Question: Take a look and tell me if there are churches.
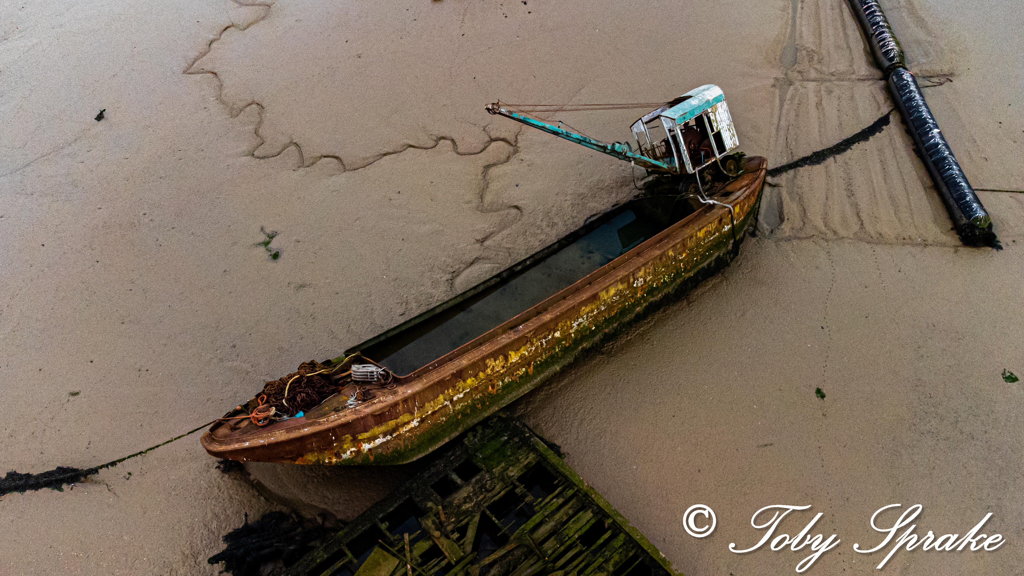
No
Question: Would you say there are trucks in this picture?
No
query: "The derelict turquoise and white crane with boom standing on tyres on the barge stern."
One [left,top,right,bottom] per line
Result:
[483,87,740,201]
